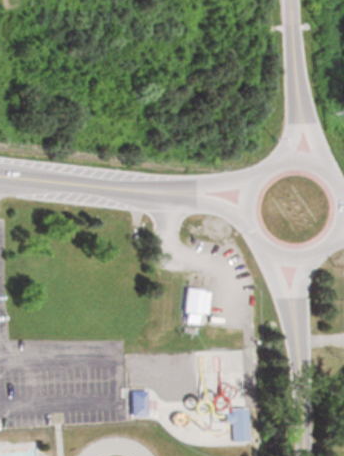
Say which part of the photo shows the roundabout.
right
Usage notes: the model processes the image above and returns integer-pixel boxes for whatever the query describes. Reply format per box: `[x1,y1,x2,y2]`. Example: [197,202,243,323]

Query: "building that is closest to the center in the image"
[187,288,213,316]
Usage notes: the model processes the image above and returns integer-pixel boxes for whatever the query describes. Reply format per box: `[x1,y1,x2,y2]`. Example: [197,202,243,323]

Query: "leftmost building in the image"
[133,390,150,416]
